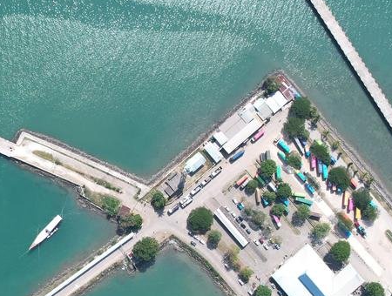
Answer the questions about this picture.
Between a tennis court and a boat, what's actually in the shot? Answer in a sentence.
The one in the frame is a boat.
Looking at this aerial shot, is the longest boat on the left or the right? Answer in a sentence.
The longest boat is on the left side of the image.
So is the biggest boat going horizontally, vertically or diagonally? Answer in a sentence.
What the image shows is the biggest boat lying diagonally.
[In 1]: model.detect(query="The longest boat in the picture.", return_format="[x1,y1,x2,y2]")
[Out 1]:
[28,214,62,250]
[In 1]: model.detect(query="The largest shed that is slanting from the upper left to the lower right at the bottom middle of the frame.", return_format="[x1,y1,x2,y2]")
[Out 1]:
[213,208,248,247]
